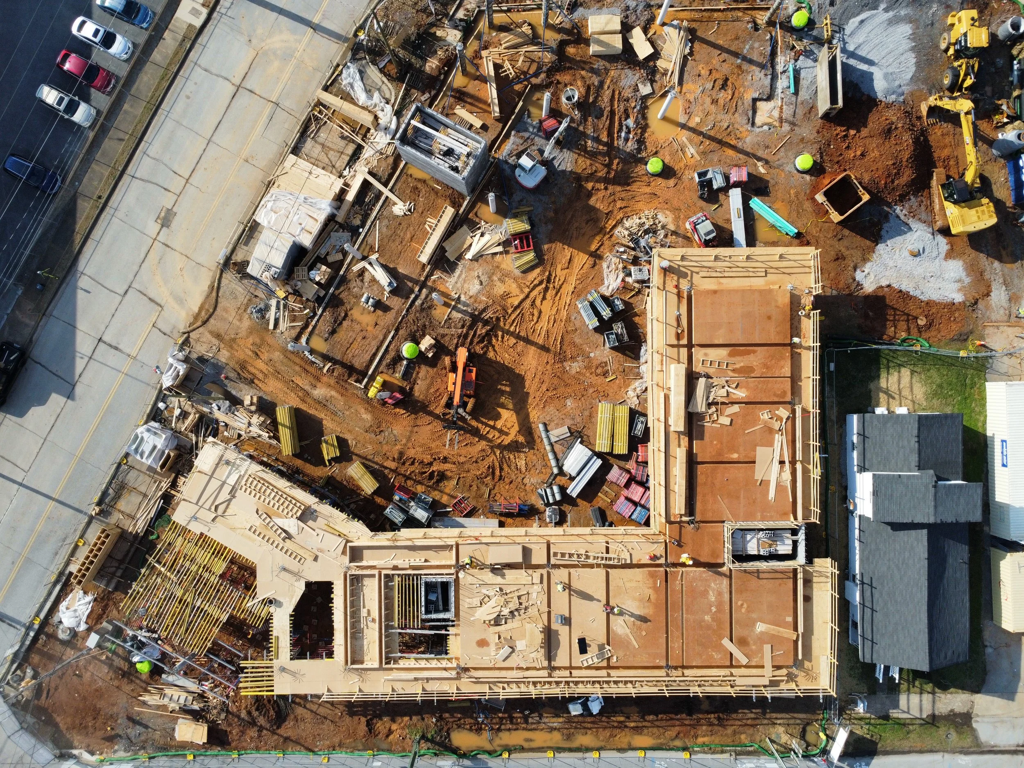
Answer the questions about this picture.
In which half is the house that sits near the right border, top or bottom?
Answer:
bottom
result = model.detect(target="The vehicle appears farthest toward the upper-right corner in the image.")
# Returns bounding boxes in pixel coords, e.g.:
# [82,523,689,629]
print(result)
[934,10,994,105]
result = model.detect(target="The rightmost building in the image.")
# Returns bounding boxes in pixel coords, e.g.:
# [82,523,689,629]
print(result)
[839,402,982,672]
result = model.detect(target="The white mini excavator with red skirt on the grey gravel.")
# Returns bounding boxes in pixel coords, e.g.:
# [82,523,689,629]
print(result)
[515,114,572,191]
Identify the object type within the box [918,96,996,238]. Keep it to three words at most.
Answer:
work vehicle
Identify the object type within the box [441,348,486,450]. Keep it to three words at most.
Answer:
work vehicle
